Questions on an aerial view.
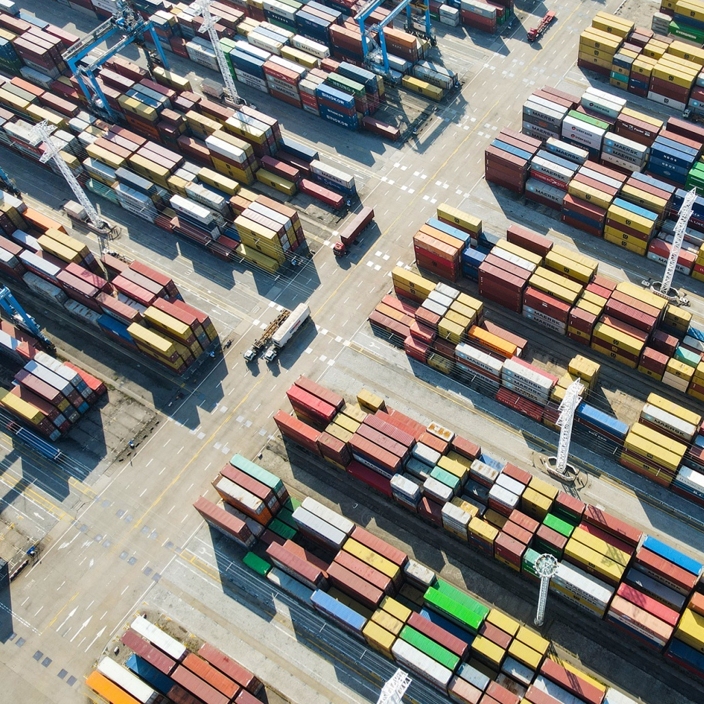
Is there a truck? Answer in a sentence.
Yes, there is a truck in the image.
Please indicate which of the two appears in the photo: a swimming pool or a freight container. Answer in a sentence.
This aerial view contains a freight container.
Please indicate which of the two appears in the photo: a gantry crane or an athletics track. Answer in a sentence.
The one in the frame is a gantry crane.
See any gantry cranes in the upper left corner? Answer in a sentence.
Yes, looking in the upper left corner, one can make out a gantry crane.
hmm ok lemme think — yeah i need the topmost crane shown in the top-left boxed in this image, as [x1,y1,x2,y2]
[49,4,170,122]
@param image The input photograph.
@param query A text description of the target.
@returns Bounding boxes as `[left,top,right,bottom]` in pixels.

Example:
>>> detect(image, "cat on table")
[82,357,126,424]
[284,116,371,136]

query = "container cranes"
[0,282,56,341]
[49,4,170,122]
[0,161,21,187]
[336,0,433,83]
